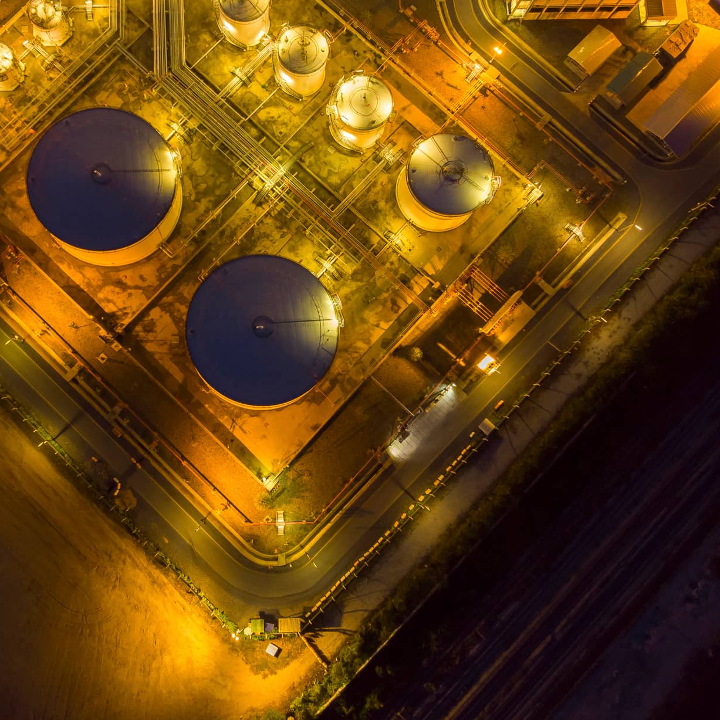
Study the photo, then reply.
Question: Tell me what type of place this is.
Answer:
industrial area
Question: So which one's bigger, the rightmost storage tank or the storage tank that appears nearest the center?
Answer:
the storage tank that appears nearest the center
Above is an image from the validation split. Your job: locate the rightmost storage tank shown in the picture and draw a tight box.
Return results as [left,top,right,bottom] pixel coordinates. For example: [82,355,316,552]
[394,132,503,236]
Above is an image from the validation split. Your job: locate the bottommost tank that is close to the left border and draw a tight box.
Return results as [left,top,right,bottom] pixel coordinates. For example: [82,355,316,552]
[25,108,186,271]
